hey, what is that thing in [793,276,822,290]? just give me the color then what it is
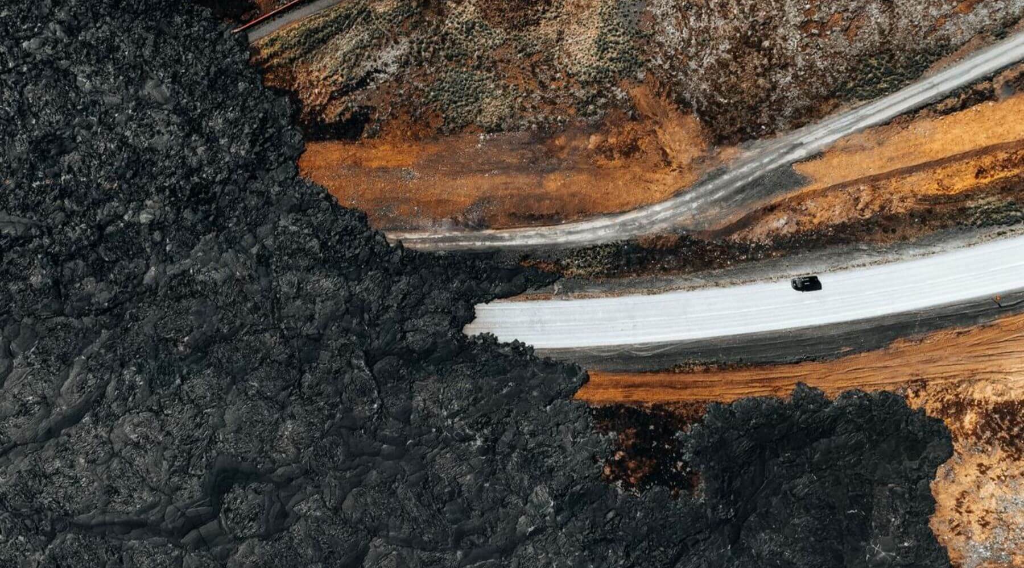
black car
